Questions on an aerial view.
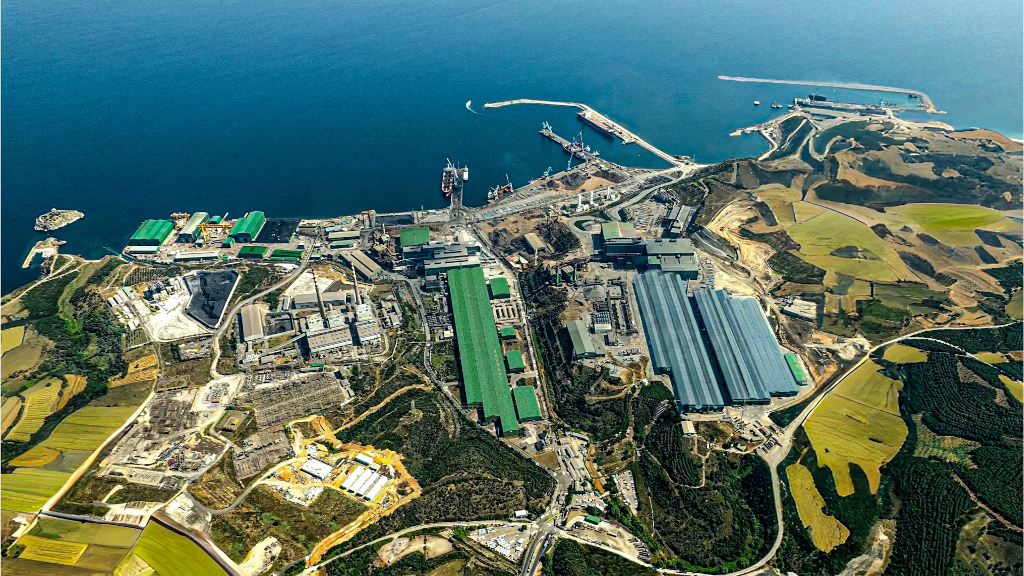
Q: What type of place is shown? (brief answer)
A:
port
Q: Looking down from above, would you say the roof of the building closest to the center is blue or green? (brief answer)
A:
green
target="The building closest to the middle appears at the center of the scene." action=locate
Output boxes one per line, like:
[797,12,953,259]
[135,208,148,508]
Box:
[489,277,511,300]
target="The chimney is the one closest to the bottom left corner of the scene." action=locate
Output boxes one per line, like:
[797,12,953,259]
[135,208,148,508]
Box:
[307,260,326,319]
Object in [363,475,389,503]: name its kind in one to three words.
building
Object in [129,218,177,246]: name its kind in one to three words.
building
